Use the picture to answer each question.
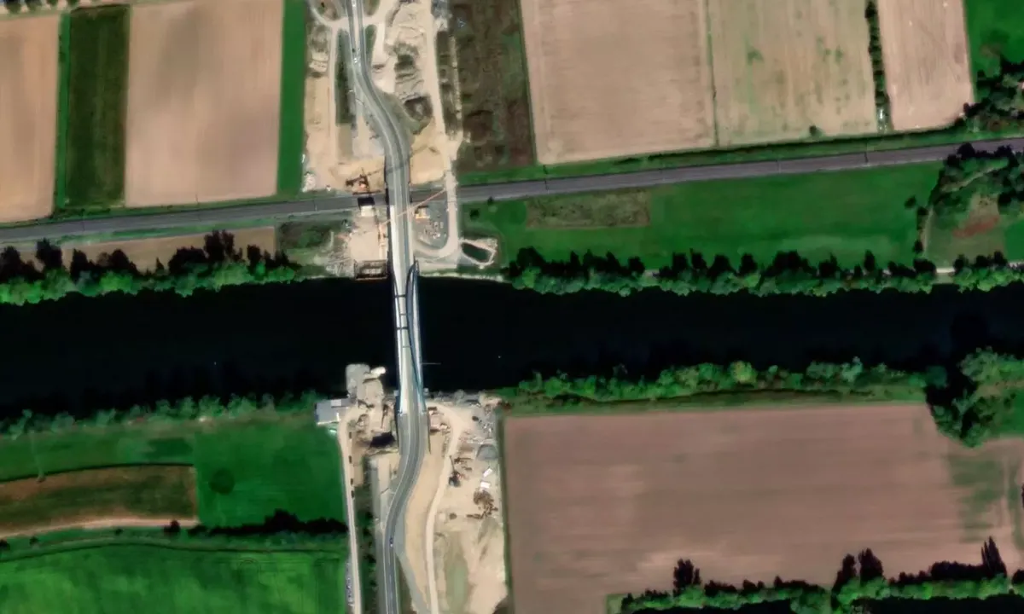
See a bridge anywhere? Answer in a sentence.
Yes, there's a bridge down there.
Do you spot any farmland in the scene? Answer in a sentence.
Yes, there's farmland in this view.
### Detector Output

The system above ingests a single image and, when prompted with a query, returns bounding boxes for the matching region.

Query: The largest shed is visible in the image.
[315,403,345,428]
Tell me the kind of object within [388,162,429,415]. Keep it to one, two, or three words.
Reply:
bridge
